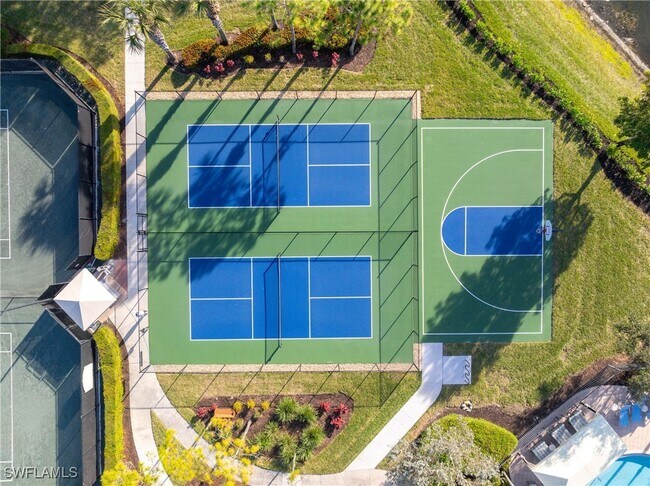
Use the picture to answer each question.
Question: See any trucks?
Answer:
No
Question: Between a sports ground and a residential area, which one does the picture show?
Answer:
sports ground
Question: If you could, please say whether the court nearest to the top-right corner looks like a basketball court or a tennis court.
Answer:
basketball court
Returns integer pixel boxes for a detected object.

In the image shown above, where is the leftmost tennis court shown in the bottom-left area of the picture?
[0,297,84,486]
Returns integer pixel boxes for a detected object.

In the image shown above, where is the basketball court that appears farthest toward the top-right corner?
[418,120,554,343]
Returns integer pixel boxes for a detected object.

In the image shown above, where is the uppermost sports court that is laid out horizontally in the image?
[146,98,418,233]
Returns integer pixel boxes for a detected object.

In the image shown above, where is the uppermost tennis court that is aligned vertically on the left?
[0,72,83,297]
